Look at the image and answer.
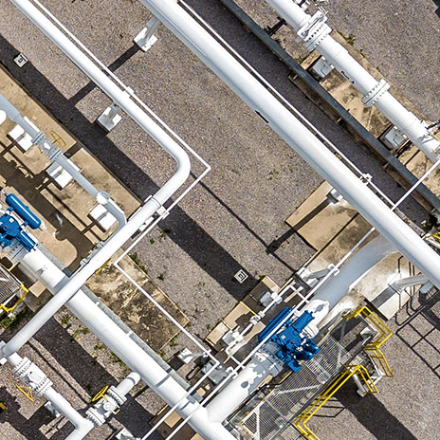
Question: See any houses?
No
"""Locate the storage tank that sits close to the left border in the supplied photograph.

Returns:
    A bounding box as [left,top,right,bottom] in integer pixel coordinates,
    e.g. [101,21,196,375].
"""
[0,191,43,230]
